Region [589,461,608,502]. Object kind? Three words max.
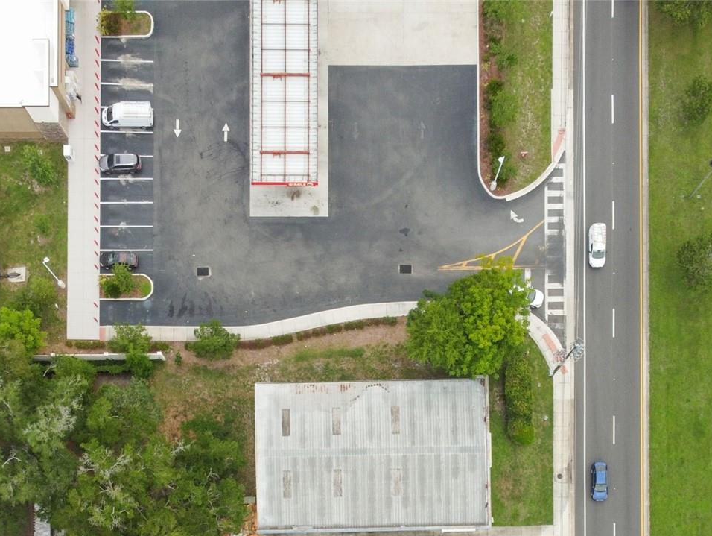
car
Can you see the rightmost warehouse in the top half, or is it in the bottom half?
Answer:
bottom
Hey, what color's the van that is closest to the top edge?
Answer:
white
